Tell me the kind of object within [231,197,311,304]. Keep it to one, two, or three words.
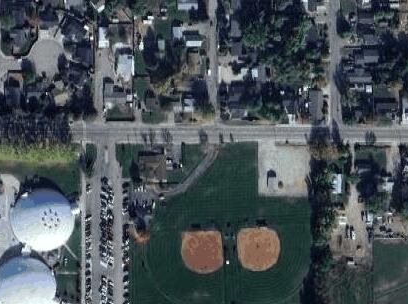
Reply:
baseball field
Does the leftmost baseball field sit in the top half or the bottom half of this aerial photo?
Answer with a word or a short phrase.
bottom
